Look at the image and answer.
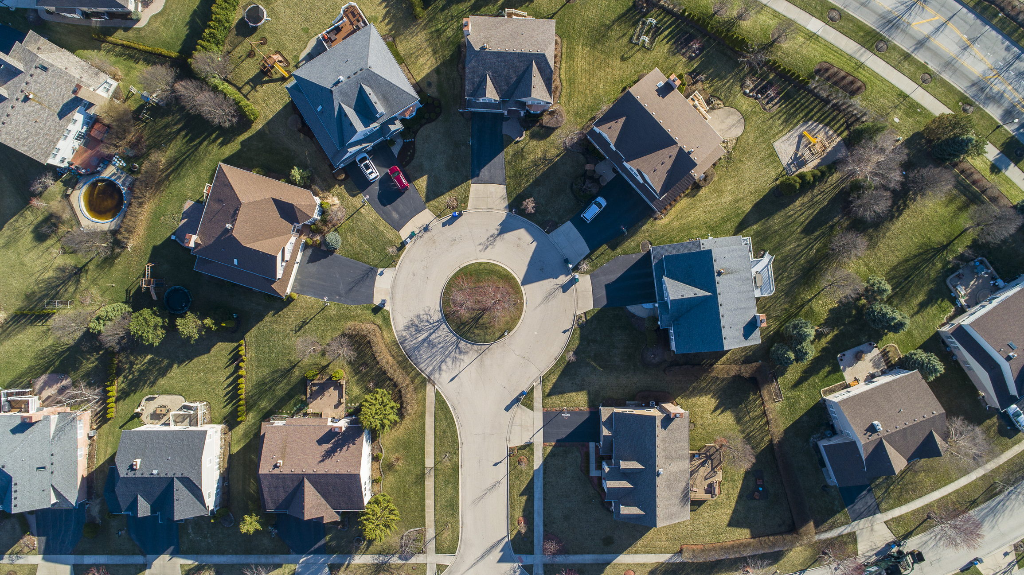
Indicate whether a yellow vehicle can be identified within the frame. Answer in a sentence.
No, I can't see a single yellow vehicle in this photo.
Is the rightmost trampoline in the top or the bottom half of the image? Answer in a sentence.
The rightmost trampoline sits in the top half of the picture.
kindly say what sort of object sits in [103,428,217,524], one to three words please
house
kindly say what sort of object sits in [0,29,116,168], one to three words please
house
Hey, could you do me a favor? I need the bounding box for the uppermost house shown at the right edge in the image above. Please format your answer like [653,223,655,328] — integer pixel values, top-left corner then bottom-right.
[938,276,1024,412]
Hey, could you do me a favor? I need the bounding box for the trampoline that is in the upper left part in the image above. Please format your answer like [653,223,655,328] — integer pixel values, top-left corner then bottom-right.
[240,0,270,26]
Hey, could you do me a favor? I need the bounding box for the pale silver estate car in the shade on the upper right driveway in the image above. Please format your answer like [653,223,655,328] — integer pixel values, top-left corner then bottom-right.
[581,194,606,225]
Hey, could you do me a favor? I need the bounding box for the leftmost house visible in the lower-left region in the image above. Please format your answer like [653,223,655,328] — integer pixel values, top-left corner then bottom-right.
[0,406,91,514]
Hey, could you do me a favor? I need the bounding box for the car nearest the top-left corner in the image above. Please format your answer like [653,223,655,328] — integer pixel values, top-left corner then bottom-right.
[355,151,379,184]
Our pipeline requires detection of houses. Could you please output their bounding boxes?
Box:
[817,368,950,489]
[586,67,726,214]
[599,403,691,528]
[938,276,1024,412]
[35,0,148,17]
[103,428,217,524]
[462,15,556,114]
[285,22,420,168]
[0,406,91,514]
[650,235,768,354]
[183,162,321,299]
[257,415,370,523]
[0,29,116,168]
